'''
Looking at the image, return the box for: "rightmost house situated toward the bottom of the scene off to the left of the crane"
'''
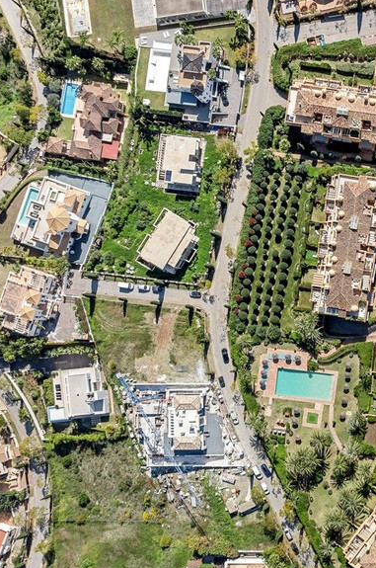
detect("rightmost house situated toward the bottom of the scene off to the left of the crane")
[52,366,116,427]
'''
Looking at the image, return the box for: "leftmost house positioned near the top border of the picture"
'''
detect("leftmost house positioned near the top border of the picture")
[65,0,96,40]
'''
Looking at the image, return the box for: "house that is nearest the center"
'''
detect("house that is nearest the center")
[135,208,204,274]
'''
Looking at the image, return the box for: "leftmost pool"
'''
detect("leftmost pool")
[19,187,39,227]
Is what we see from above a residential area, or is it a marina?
residential area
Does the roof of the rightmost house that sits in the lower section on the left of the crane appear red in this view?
No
